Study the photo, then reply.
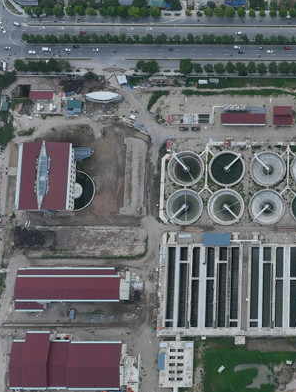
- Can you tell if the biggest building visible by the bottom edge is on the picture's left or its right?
left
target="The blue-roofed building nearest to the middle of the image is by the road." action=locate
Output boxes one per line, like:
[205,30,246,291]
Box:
[204,232,231,245]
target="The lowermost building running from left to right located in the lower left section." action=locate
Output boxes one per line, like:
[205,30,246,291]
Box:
[8,332,127,390]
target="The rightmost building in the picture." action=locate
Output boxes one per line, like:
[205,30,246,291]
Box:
[273,105,292,127]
